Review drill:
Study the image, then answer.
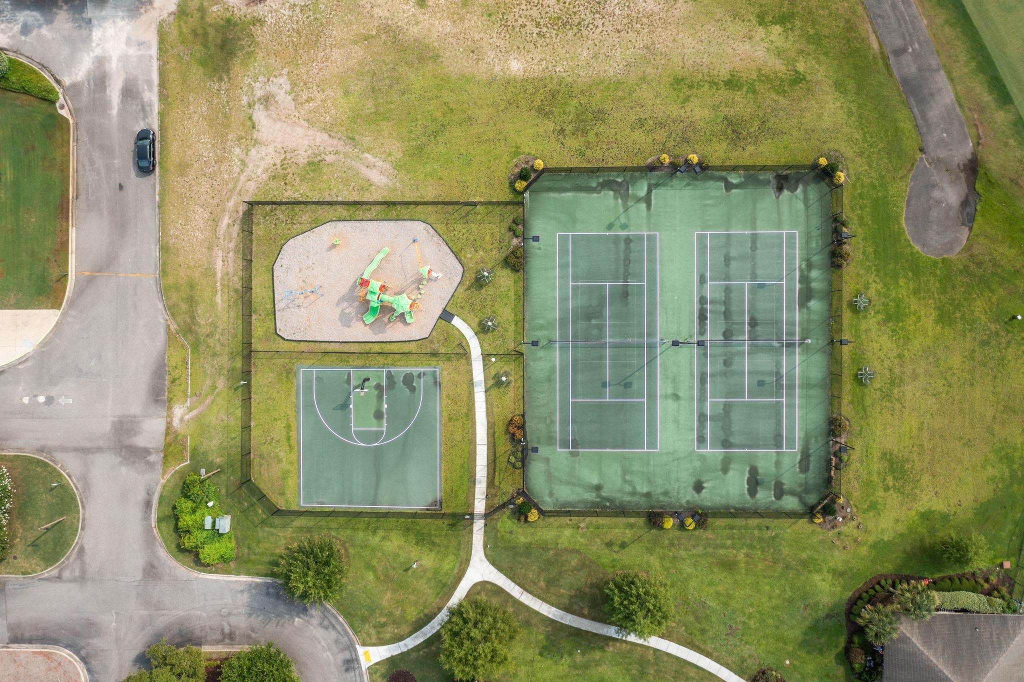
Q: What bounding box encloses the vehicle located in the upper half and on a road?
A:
[131,128,154,171]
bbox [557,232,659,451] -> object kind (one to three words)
tennis court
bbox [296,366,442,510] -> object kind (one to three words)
basketball court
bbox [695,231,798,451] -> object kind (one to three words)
tennis court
